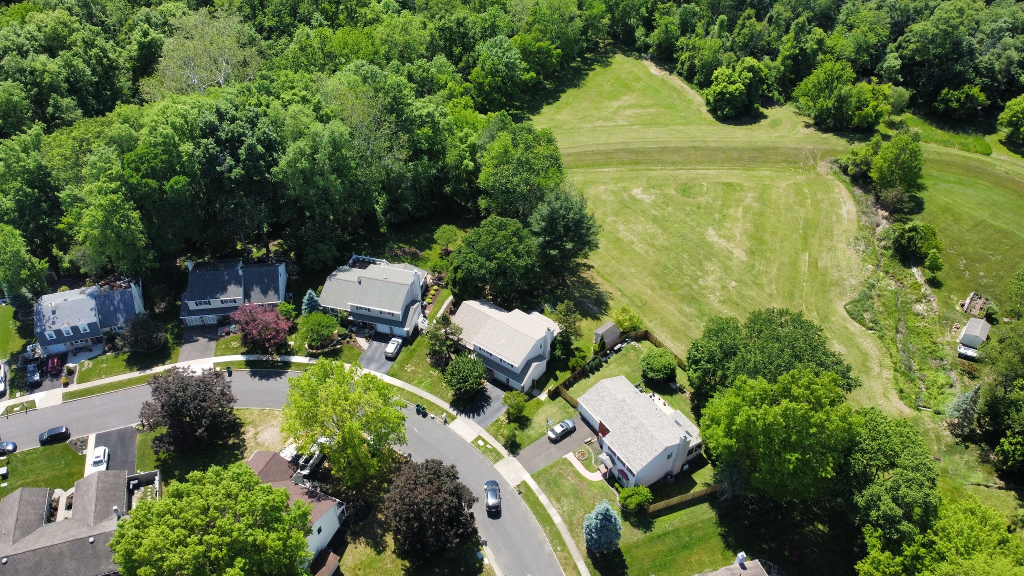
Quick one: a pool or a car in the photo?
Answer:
car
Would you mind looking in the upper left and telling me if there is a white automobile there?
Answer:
No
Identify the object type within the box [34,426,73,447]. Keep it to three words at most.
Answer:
car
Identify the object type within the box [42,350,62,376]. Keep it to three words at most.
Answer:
car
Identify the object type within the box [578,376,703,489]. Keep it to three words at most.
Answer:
house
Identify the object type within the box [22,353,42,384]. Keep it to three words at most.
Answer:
vehicle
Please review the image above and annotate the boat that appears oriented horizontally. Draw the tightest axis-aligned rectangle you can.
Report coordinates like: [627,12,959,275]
[951,348,987,362]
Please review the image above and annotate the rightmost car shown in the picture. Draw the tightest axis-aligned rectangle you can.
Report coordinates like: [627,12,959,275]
[546,418,577,442]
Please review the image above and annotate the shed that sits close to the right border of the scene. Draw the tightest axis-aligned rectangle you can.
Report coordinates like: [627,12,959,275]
[945,314,988,347]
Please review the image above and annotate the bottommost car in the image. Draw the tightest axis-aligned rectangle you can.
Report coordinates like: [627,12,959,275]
[484,481,501,514]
